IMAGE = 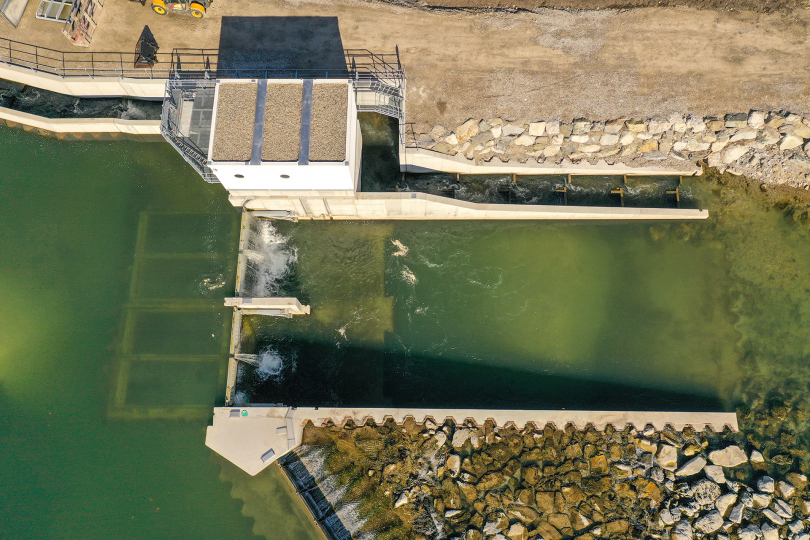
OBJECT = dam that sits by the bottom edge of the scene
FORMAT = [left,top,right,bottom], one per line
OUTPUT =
[278,448,357,540]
